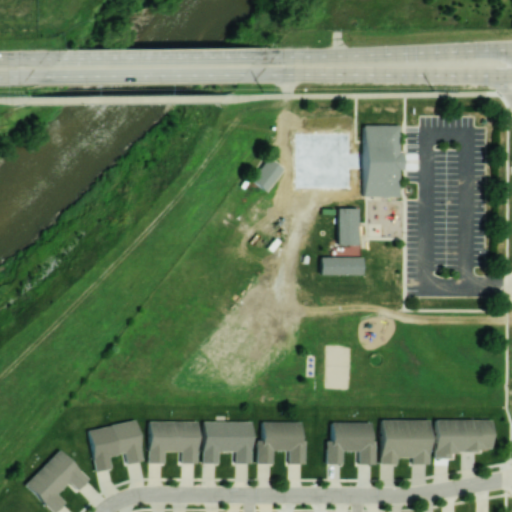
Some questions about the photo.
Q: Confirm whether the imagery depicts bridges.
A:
Yes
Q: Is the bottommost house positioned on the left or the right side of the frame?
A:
left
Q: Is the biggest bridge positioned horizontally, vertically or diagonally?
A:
horizontally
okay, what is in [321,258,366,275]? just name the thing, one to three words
shed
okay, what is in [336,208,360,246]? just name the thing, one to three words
shed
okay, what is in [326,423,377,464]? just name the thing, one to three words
house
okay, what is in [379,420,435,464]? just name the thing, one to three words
house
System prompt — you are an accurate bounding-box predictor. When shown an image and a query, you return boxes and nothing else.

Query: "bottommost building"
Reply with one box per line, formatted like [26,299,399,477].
[25,450,90,512]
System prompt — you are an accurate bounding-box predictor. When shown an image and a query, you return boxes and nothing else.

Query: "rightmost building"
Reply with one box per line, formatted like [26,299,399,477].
[433,420,496,459]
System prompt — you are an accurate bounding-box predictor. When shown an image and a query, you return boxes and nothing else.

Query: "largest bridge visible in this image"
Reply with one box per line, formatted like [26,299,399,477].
[38,48,246,86]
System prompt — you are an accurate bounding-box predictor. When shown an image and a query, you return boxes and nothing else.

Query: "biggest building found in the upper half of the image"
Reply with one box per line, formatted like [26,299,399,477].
[363,126,420,196]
